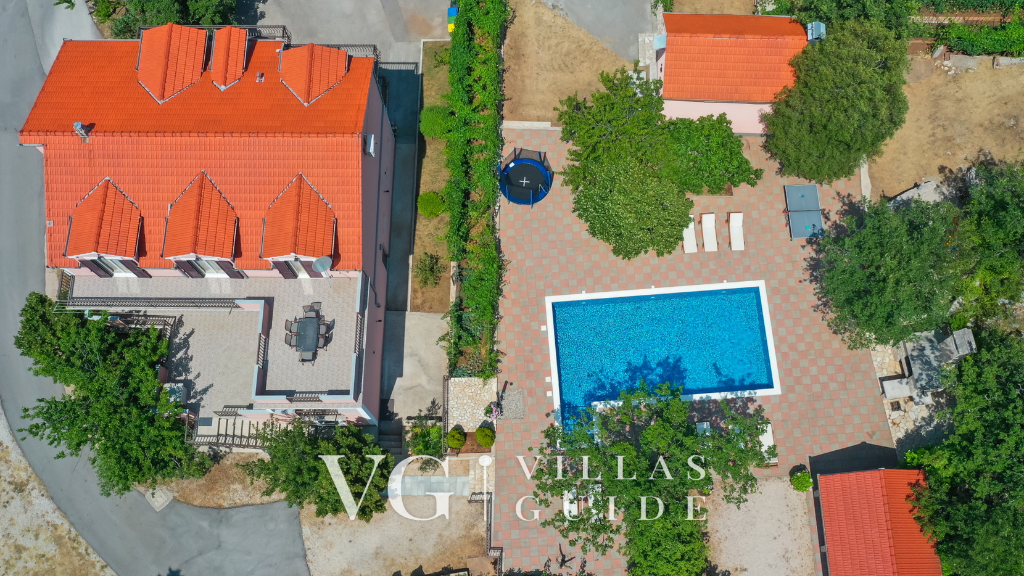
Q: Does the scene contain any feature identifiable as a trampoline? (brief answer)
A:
Yes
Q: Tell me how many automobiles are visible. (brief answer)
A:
0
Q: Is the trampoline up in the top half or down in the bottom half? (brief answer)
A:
top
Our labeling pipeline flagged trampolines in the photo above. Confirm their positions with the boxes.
[496,145,551,210]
